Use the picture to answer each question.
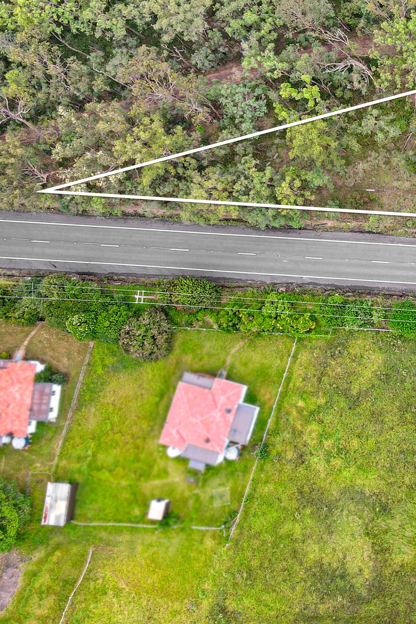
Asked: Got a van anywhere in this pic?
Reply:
No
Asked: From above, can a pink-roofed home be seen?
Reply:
Yes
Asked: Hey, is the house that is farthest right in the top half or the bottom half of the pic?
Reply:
bottom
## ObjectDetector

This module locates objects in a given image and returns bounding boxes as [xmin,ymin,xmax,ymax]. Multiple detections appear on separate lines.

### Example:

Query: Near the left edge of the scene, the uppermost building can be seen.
[0,345,65,445]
